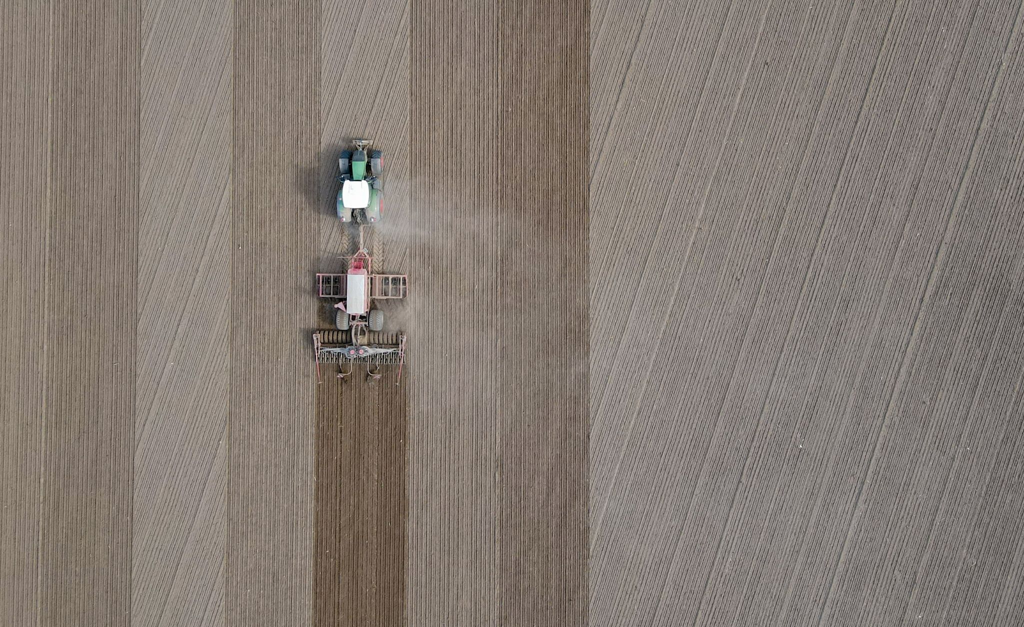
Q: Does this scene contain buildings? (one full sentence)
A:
No, I can see no building in this picture.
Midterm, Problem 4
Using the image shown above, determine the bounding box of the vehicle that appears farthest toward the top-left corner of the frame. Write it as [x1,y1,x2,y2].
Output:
[335,138,385,229]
